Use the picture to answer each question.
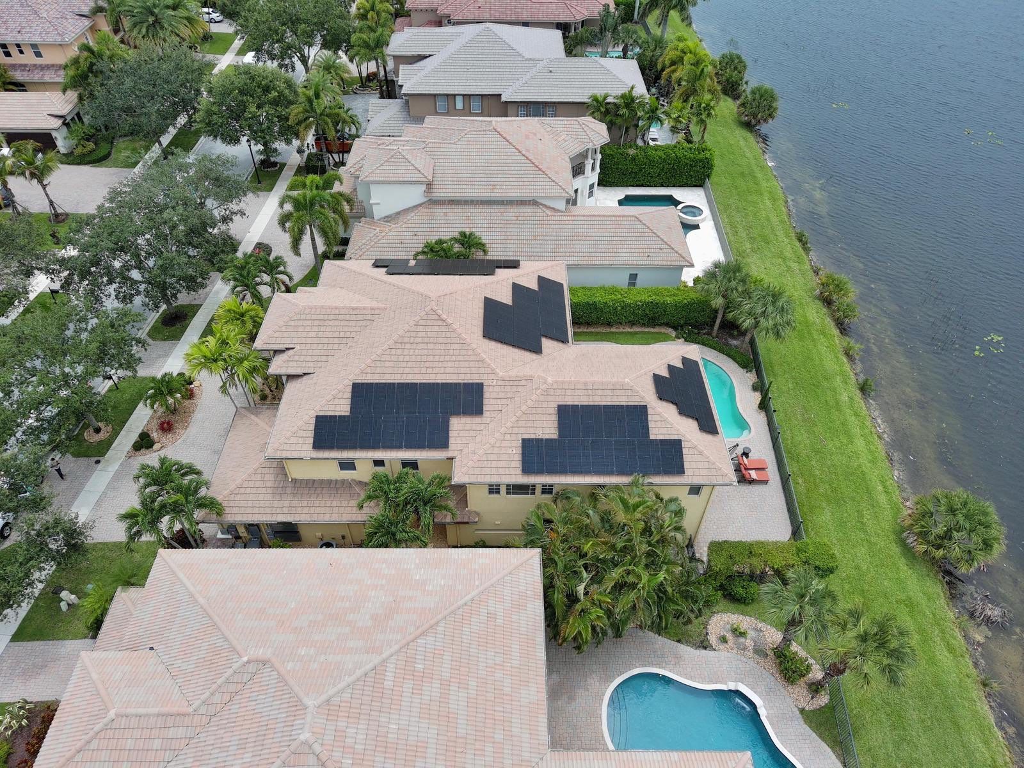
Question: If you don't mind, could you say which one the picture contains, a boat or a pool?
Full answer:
It is a pool that can be seen here.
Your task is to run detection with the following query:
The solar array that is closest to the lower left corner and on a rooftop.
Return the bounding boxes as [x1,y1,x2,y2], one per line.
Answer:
[311,384,485,450]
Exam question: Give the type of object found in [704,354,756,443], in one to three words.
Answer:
swimming pool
